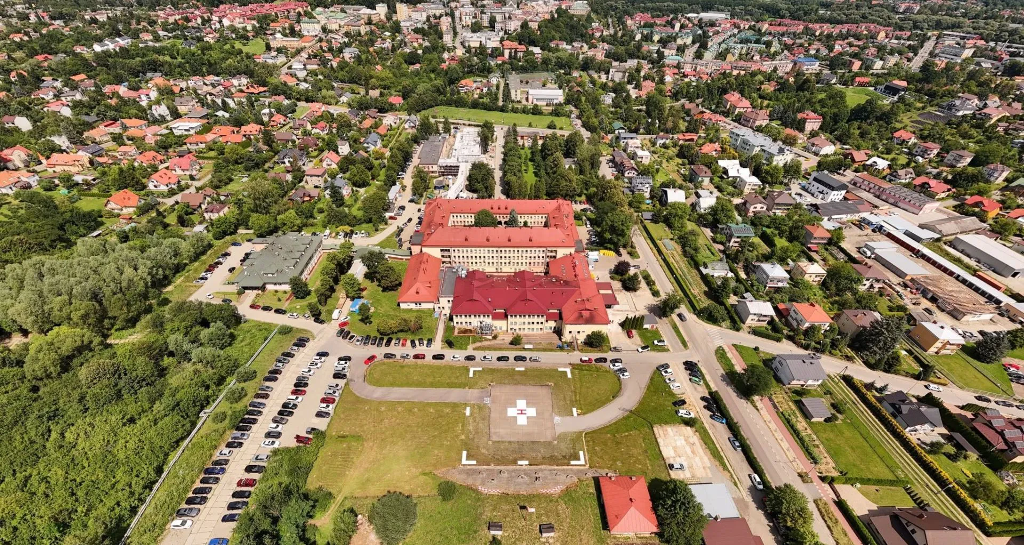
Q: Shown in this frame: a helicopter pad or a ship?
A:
helicopter pad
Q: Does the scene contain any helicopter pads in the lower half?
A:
Yes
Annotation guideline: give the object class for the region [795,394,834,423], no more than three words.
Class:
shed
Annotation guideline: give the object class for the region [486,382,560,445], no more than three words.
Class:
helipad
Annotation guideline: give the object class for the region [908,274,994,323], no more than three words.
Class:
building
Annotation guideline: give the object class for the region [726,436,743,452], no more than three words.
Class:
car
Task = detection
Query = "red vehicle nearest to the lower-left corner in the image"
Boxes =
[238,477,256,489]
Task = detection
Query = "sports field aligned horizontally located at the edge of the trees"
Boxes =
[418,107,565,129]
